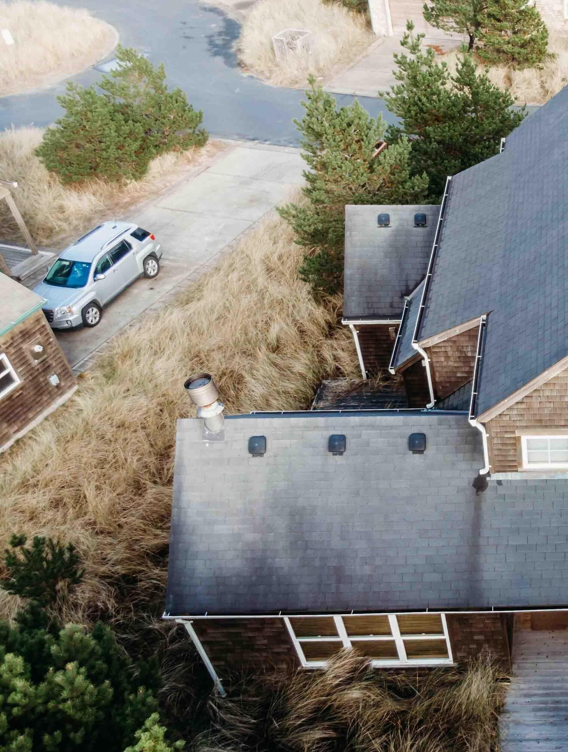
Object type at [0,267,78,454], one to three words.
house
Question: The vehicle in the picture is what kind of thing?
automobile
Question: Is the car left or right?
left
